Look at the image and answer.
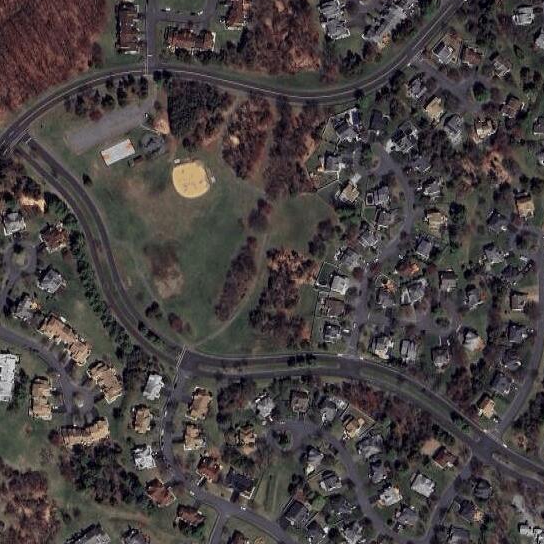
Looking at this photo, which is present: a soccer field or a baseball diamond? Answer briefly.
baseball diamond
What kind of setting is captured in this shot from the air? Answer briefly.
residential area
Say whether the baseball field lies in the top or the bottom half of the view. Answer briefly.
top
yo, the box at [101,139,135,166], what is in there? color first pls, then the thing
white sports court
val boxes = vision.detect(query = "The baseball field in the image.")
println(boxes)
[173,157,211,197]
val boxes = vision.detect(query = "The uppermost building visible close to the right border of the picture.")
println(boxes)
[511,5,535,25]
